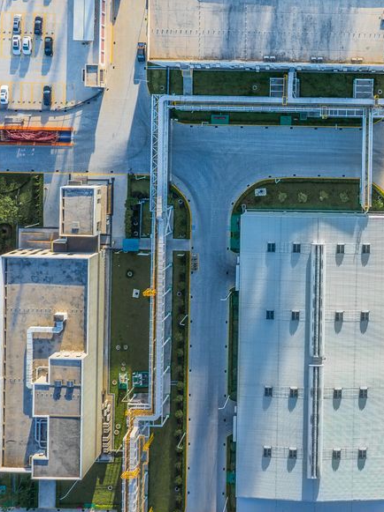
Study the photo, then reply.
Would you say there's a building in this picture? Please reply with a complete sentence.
Yes, a building appears in the view.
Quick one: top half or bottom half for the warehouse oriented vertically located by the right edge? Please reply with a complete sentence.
You can find the warehouse oriented vertically located by the right edge in the bottom half.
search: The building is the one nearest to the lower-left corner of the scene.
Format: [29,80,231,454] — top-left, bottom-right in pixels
[0,251,103,480]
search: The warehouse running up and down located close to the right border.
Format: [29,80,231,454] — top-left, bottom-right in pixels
[237,209,384,506]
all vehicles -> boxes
[11,35,22,55]
[12,15,23,34]
[0,85,9,105]
[33,17,44,36]
[137,41,146,62]
[44,36,54,56]
[22,36,32,56]
[43,86,52,106]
